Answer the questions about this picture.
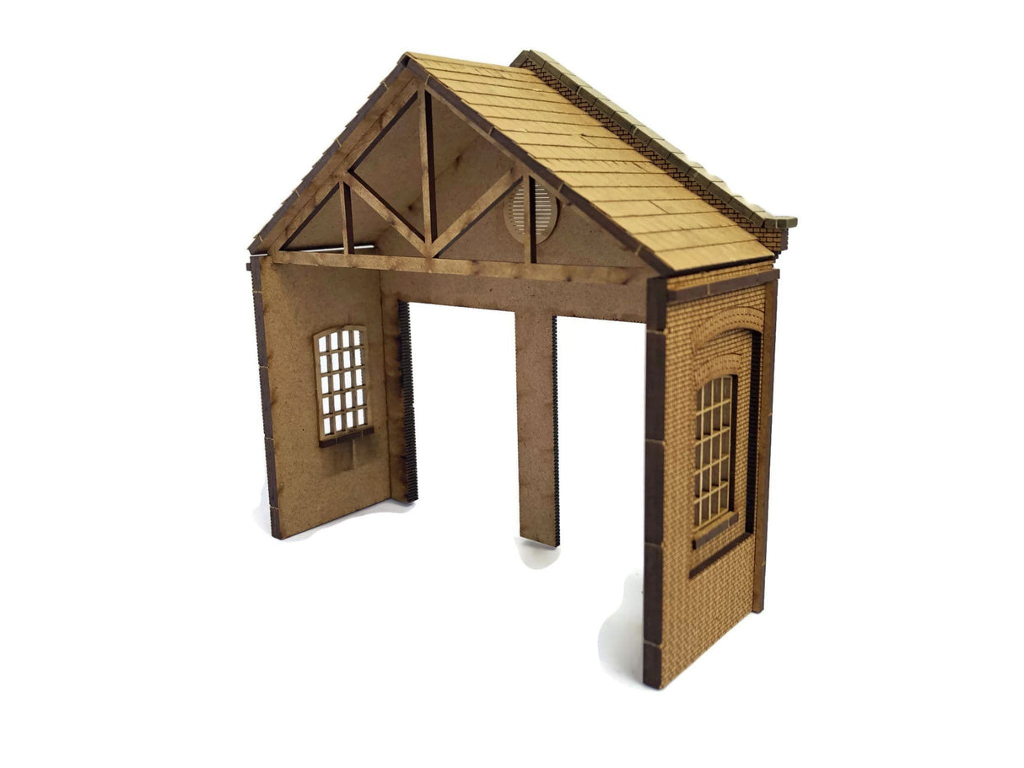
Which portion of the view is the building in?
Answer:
center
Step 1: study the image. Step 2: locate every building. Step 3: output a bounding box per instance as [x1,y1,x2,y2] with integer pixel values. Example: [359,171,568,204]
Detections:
[247,51,797,690]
